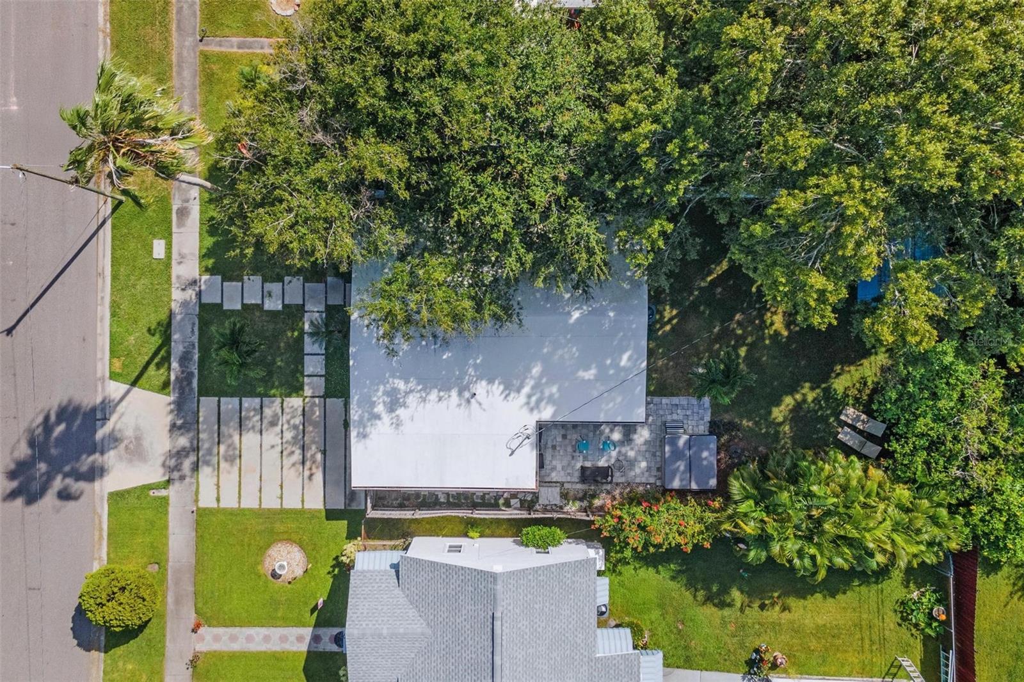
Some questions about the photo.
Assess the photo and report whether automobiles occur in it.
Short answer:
No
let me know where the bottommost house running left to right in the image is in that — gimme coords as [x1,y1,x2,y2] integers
[343,532,663,682]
